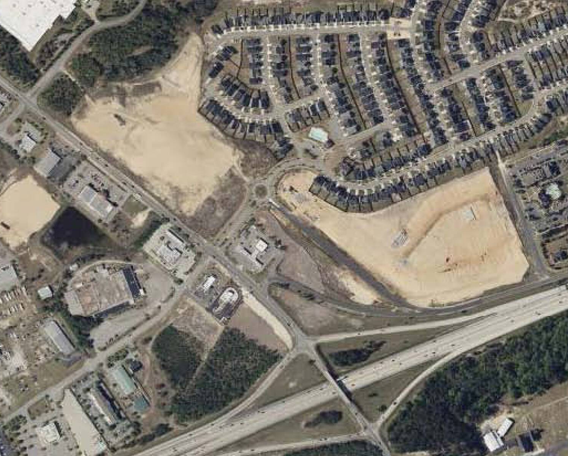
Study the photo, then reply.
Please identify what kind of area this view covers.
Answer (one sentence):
This looks like a residential area.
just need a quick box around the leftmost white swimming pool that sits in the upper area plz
[309,127,328,142]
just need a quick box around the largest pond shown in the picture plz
[41,207,108,248]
